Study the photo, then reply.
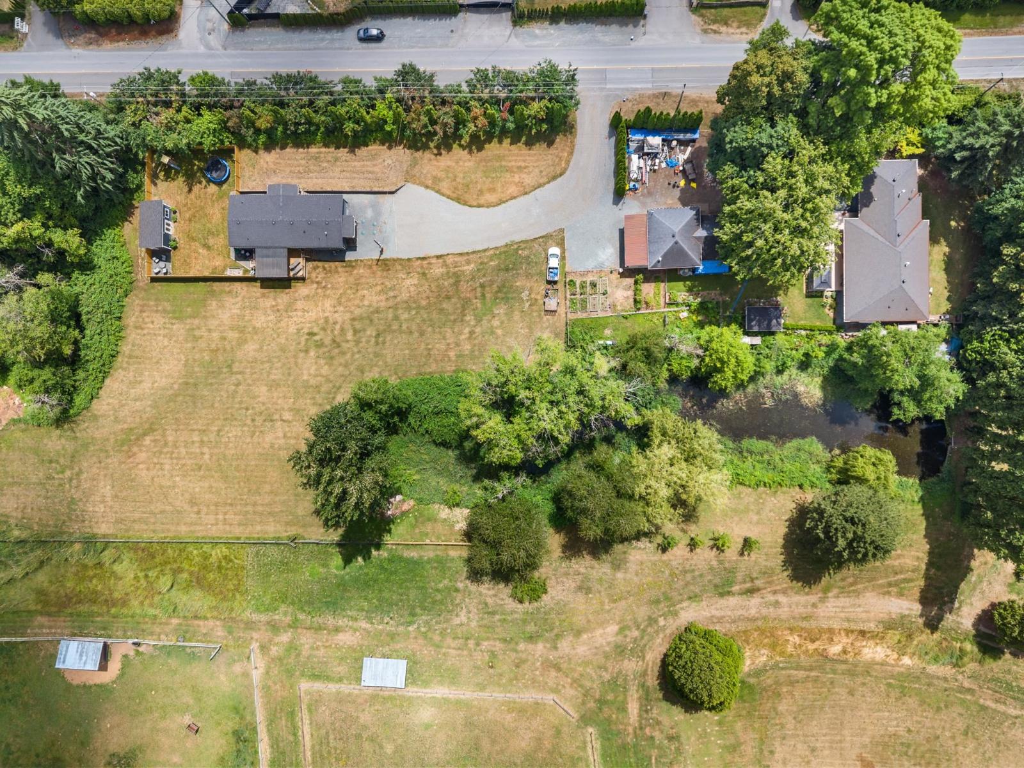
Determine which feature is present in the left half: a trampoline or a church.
trampoline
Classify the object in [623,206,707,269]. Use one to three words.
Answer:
building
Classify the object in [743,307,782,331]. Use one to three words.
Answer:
shed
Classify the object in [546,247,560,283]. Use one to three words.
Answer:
vehicle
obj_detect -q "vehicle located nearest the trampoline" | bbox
[357,28,386,43]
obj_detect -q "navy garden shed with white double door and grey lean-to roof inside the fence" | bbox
[140,200,171,250]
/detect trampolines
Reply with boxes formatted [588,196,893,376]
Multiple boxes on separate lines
[201,154,232,183]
